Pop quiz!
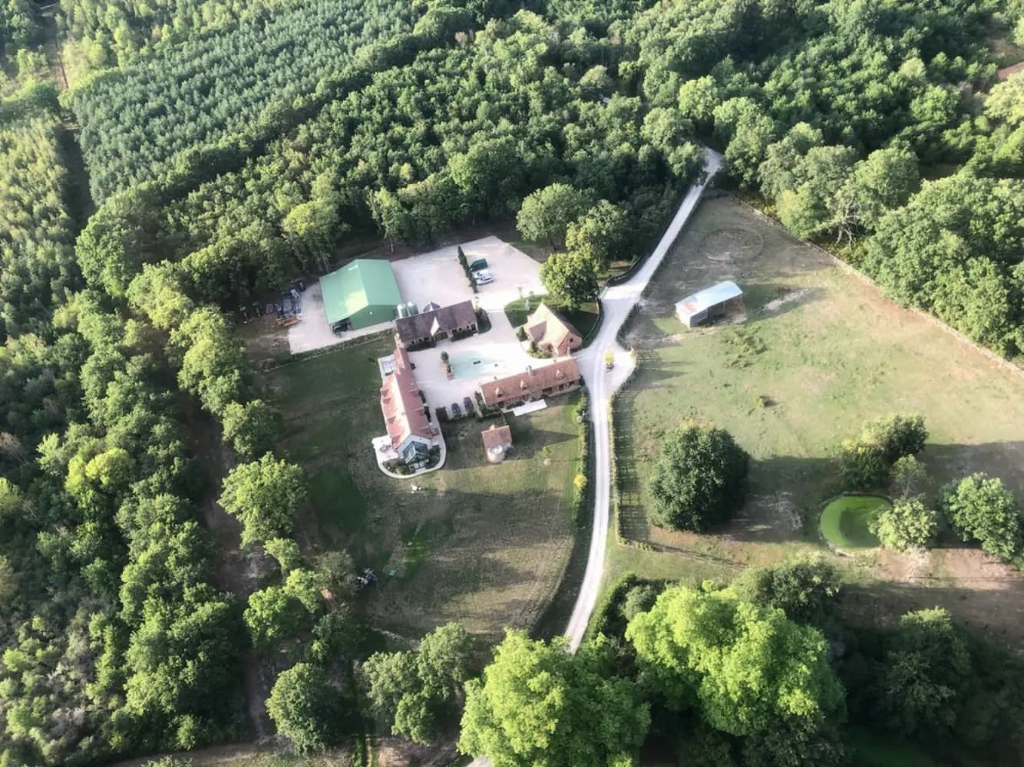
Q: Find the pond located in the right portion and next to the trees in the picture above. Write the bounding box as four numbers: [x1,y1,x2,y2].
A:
[821,495,889,549]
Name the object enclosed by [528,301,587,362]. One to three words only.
house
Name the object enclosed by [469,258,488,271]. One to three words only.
vehicle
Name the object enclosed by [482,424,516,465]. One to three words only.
building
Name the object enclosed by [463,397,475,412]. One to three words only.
vehicle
